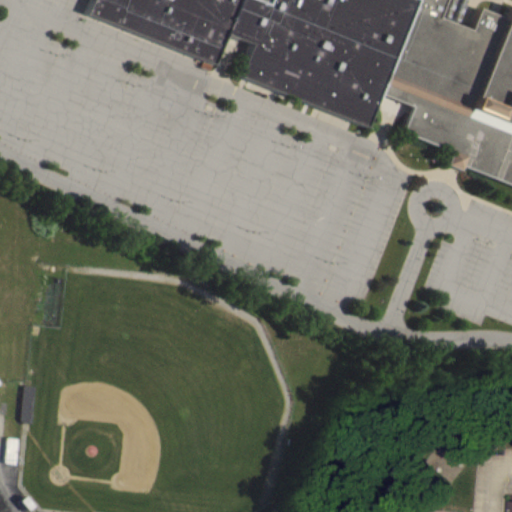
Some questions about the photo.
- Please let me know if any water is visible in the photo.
No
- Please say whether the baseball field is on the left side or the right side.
left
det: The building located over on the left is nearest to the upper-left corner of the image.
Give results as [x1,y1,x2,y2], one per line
[84,0,244,66]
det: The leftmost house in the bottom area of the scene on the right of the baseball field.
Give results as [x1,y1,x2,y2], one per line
[428,452,465,484]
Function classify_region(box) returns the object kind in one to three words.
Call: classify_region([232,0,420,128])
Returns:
building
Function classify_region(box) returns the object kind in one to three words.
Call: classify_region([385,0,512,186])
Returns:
building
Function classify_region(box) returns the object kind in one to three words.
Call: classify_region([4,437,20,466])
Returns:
shed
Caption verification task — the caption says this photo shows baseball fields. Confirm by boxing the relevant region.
[26,276,281,512]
